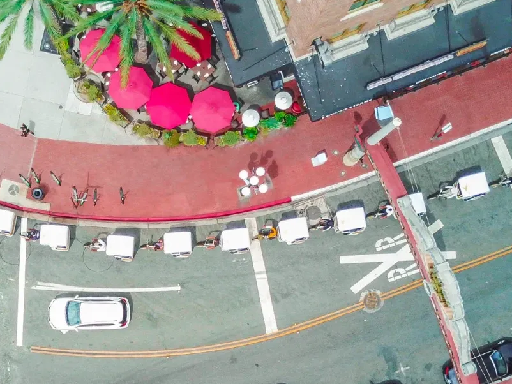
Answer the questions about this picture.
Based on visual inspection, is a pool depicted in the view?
No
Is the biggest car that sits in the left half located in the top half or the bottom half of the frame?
bottom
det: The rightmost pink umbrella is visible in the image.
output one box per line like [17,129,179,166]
[191,86,237,134]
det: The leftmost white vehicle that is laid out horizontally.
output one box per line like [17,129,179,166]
[47,292,133,335]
